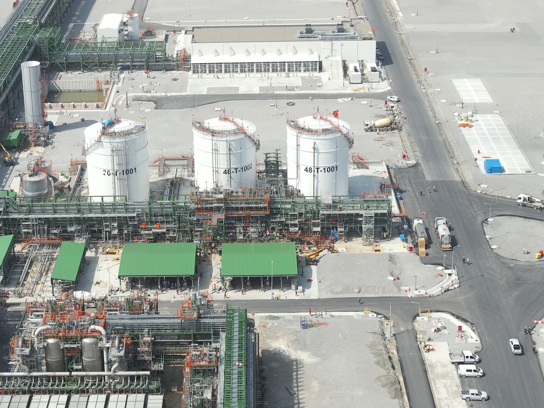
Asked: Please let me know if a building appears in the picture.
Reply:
Yes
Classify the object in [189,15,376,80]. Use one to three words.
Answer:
building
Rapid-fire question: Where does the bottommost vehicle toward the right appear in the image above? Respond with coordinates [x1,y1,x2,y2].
[459,386,490,400]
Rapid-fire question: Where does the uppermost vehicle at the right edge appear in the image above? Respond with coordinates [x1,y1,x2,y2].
[513,190,544,207]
